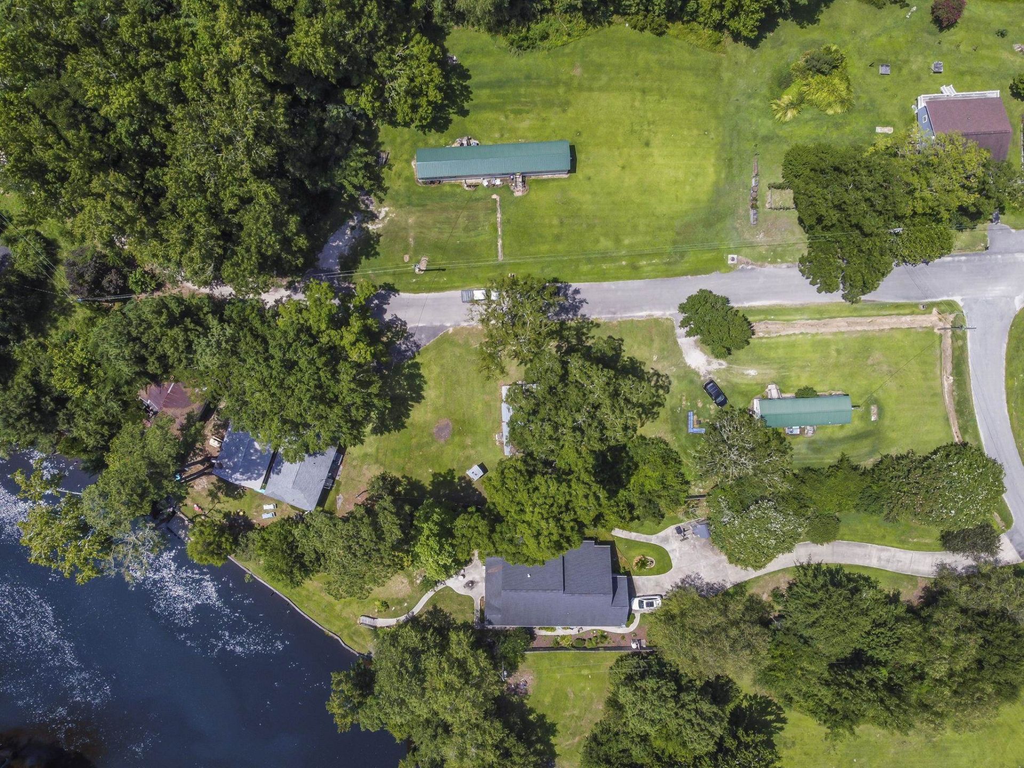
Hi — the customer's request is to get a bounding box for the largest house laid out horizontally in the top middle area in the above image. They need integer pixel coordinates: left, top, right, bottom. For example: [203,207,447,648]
[416,140,570,182]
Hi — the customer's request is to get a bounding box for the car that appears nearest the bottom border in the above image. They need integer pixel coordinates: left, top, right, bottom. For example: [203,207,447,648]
[632,597,663,612]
